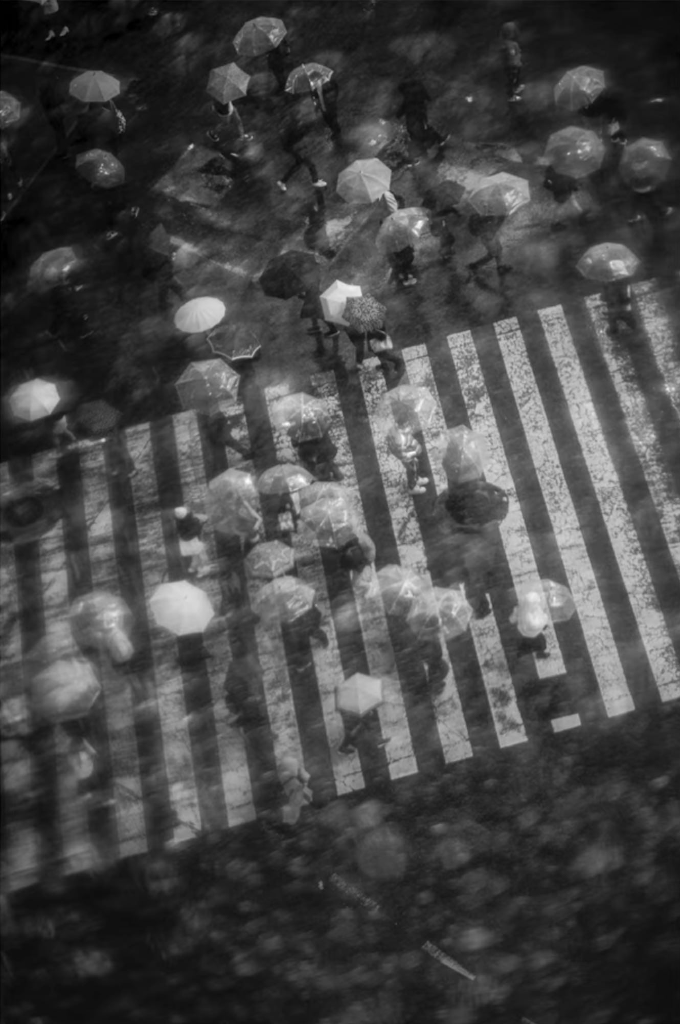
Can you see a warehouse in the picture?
No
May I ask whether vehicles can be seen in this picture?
No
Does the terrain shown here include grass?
No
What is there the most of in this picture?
paved ground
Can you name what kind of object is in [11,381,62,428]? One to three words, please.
umbrella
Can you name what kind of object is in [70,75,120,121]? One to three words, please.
umbrella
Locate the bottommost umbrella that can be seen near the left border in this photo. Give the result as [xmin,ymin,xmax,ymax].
[32,660,100,724]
